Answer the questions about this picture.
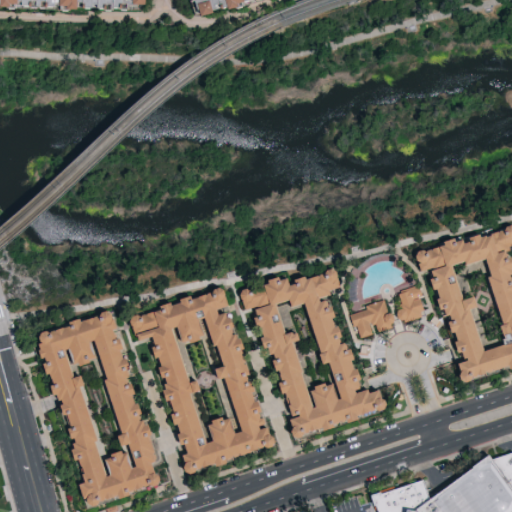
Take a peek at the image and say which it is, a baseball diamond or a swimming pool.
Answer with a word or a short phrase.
swimming pool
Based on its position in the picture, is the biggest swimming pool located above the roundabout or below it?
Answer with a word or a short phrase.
above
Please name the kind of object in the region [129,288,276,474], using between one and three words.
building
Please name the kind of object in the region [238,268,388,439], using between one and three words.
building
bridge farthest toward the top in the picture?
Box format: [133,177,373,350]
[0,0,370,247]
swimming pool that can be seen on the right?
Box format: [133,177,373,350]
[349,253,416,312]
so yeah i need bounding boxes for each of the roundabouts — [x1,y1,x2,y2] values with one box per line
[386,332,430,376]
